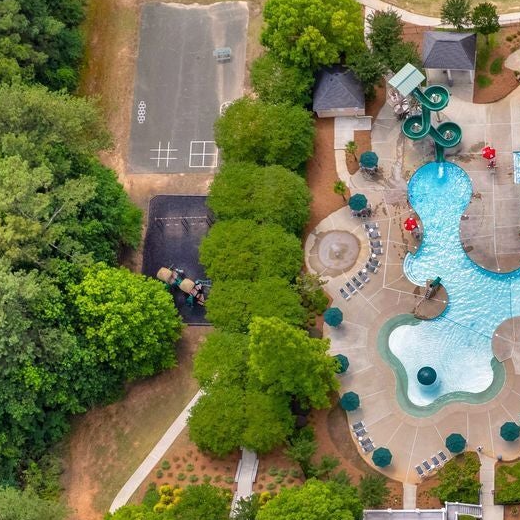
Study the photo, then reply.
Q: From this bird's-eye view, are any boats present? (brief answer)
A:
No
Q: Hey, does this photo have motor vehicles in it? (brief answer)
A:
No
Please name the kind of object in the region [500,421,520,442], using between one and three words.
umbrella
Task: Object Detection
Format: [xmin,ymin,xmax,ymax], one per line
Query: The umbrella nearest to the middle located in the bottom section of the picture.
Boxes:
[323,307,344,327]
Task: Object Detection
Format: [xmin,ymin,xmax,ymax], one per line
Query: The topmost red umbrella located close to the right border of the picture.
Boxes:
[482,147,496,161]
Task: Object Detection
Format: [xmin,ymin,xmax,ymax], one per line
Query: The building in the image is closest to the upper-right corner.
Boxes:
[421,31,477,85]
